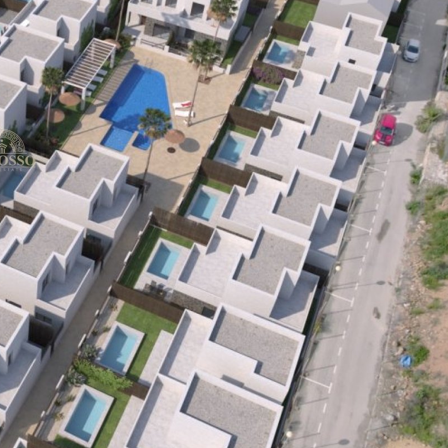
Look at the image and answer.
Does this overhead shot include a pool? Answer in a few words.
Yes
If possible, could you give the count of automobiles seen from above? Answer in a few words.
2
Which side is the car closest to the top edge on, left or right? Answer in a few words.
right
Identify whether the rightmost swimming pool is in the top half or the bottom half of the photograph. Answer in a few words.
top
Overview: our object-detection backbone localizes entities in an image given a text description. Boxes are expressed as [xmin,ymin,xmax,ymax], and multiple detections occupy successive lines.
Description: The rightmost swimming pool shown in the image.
[262,45,290,65]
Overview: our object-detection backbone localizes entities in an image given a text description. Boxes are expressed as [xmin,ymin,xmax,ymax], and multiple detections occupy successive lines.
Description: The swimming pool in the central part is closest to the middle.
[185,186,225,226]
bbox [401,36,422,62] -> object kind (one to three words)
car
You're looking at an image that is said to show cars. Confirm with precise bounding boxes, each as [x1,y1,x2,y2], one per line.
[401,36,422,62]
[376,113,396,144]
